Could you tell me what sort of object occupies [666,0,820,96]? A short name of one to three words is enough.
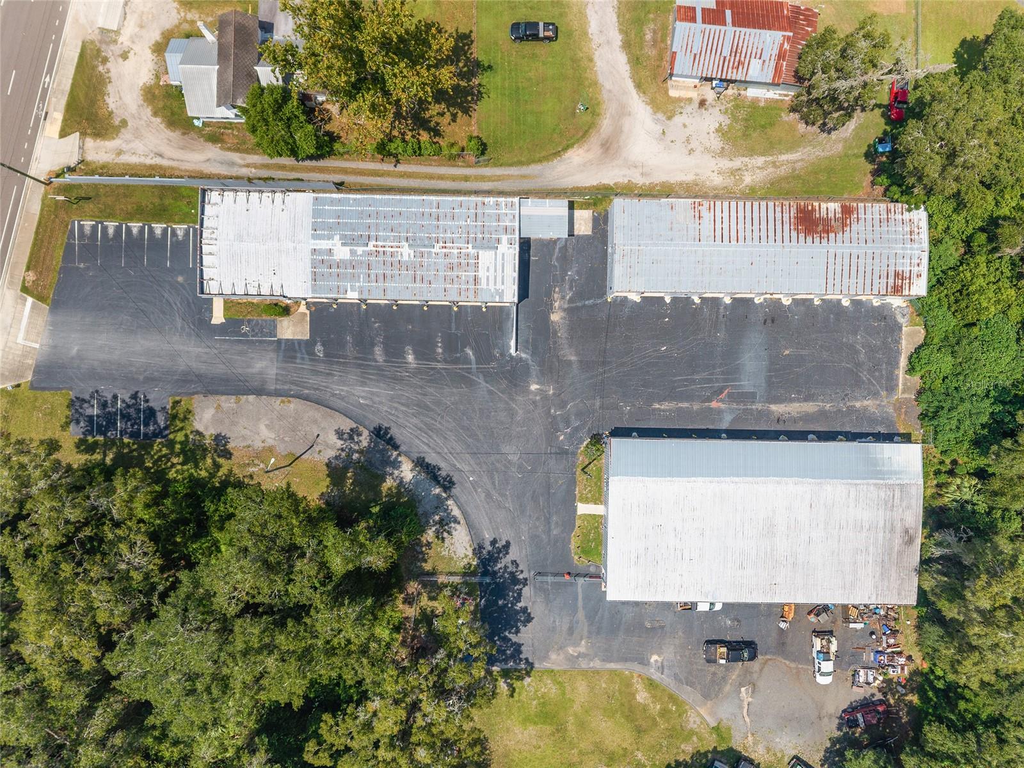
barn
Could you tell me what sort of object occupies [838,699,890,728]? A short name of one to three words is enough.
truck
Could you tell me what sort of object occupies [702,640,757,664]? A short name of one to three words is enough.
truck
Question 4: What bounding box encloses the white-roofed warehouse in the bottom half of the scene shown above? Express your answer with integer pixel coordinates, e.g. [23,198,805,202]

[602,437,926,606]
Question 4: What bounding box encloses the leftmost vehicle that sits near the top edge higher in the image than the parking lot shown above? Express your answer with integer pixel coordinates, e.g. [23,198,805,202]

[509,20,558,45]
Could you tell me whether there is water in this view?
No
